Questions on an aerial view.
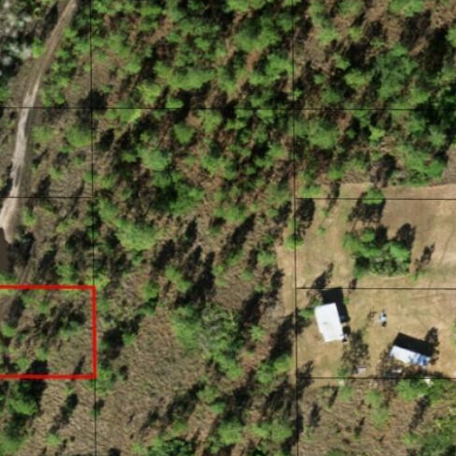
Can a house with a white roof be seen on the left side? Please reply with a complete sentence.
No, on the left side there is no house with a white roof.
